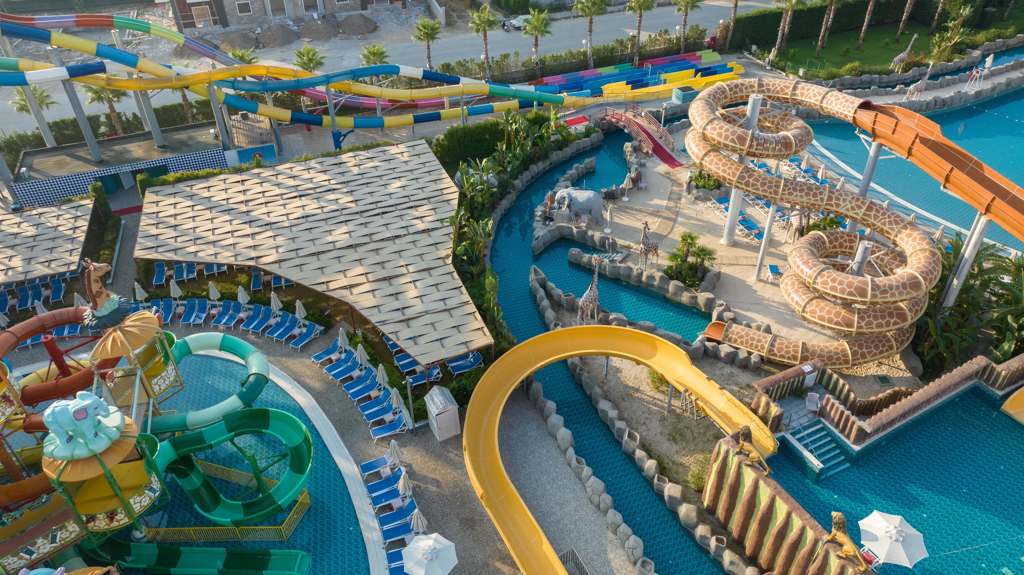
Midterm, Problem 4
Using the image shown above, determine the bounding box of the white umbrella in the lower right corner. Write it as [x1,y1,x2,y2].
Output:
[852,509,932,574]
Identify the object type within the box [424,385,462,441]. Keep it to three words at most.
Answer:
shed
